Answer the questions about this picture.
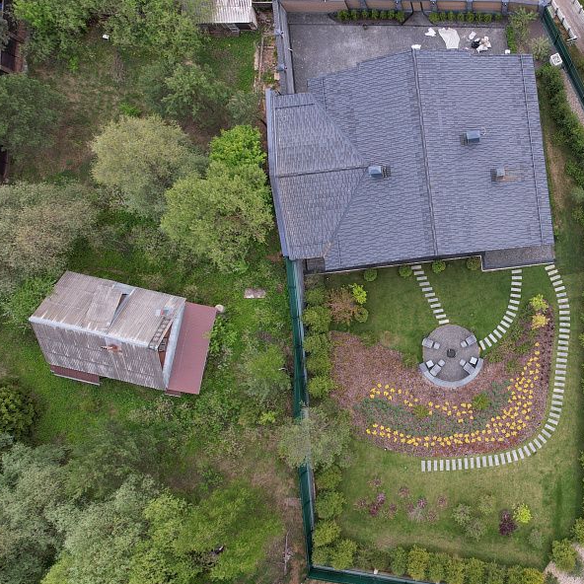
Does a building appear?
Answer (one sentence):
Yes, the frame does contain a building.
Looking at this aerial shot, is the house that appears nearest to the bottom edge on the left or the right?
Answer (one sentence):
You can find the house that appears nearest to the bottom edge on the left side of the picture.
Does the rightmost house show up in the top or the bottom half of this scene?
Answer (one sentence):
The top half of the photo is where the rightmost house is.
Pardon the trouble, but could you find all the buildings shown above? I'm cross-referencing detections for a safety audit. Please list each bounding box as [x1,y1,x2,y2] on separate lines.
[28,272,218,402]
[199,0,262,33]
[265,43,555,276]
